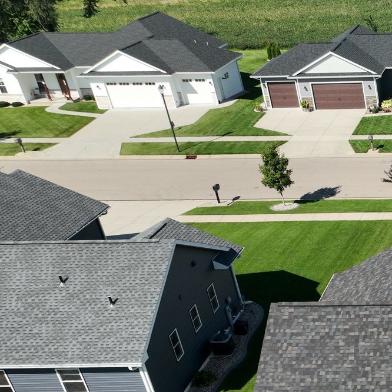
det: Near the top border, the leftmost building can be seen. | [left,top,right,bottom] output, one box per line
[0,12,247,109]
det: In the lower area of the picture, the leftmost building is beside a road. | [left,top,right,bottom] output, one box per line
[0,169,252,392]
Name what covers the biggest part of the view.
buildings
